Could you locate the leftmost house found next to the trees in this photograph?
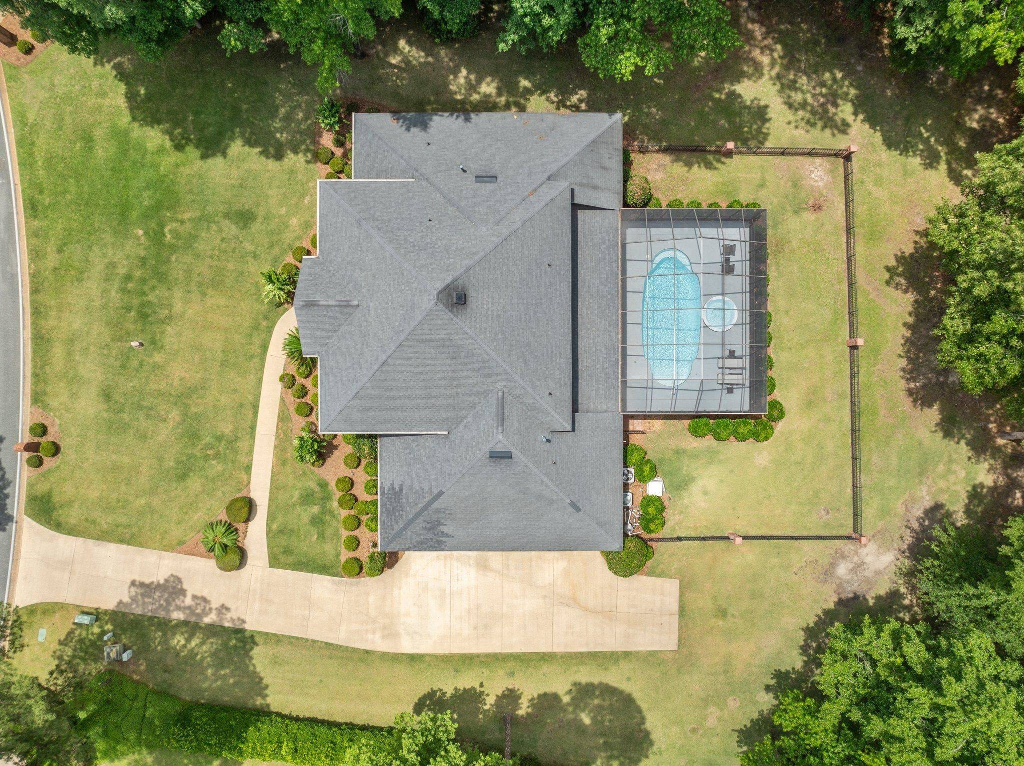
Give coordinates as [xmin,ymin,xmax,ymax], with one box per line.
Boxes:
[294,111,624,553]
